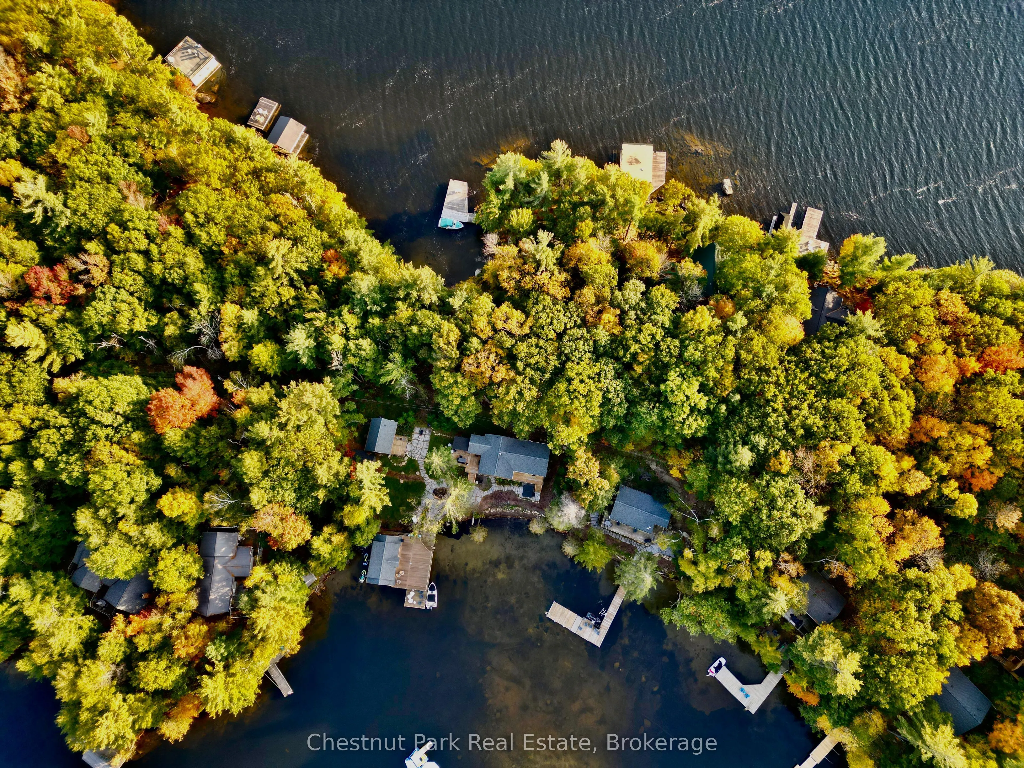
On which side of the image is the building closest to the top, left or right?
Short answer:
left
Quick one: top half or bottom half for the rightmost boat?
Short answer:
bottom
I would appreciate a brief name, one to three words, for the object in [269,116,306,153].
building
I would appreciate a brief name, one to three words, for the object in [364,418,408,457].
house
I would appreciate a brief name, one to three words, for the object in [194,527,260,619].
house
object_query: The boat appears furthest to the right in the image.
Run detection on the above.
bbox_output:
[706,658,726,678]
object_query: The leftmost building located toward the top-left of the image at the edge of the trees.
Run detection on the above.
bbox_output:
[163,34,215,82]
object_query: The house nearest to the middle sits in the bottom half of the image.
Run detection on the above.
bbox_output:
[451,434,551,492]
